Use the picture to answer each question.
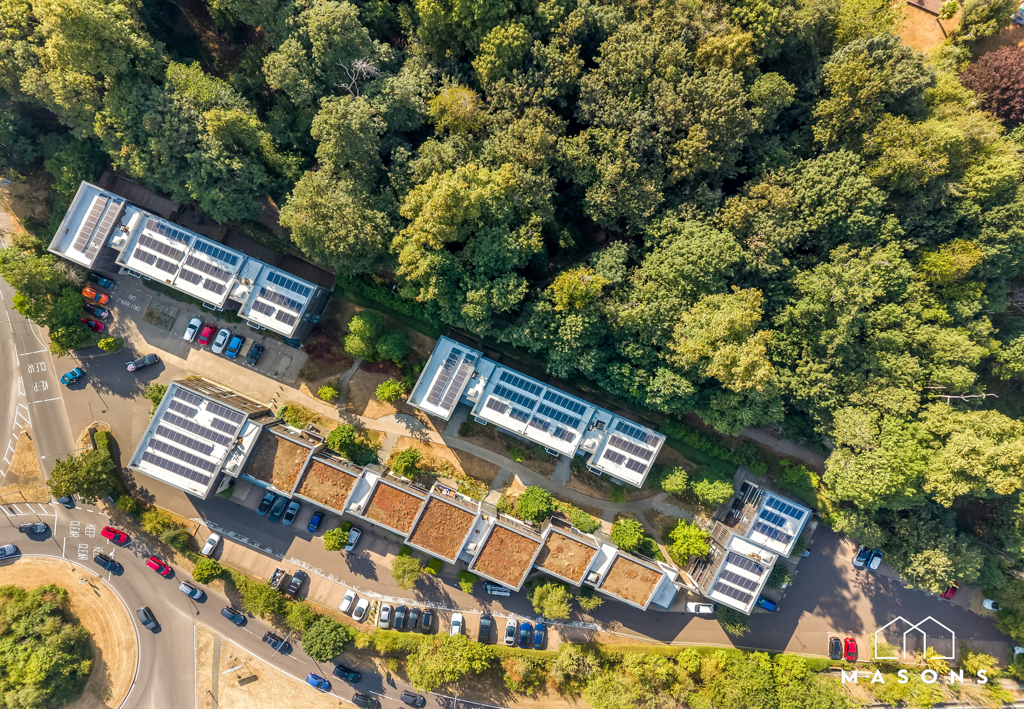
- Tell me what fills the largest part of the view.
trees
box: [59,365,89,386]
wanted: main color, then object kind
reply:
blue car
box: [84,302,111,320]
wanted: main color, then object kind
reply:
black car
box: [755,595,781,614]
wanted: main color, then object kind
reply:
blue car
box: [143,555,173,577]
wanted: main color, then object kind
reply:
red car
